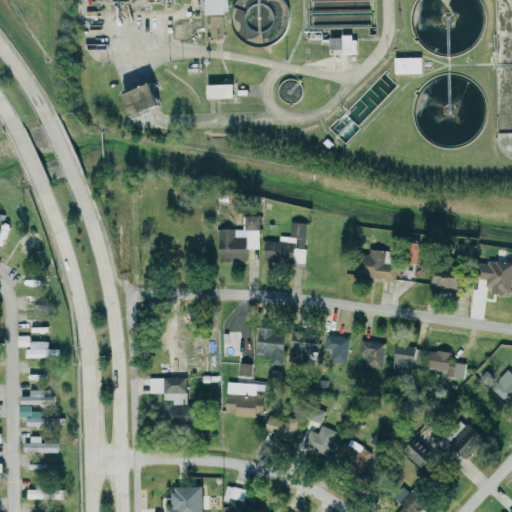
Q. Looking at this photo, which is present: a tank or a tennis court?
tank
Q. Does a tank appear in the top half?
Yes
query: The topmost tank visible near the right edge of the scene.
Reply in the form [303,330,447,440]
[410,0,488,58]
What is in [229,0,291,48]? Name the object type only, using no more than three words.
storage tank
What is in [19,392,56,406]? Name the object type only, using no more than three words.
house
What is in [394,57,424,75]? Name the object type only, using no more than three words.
building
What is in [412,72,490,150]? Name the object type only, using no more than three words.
storage tank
